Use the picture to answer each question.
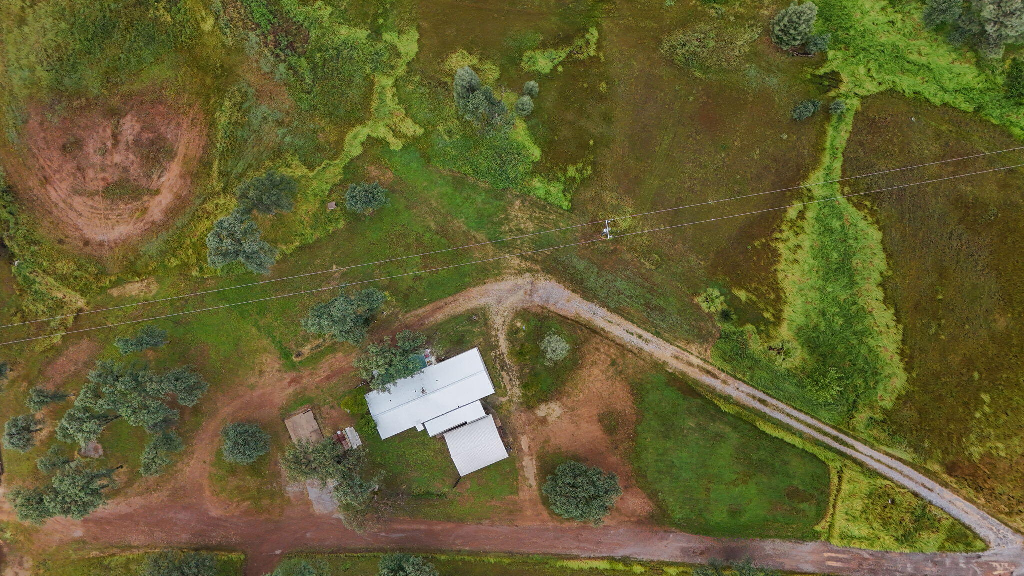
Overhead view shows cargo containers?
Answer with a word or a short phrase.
No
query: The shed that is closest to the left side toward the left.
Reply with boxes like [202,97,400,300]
[332,427,362,451]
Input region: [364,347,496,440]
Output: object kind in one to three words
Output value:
house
